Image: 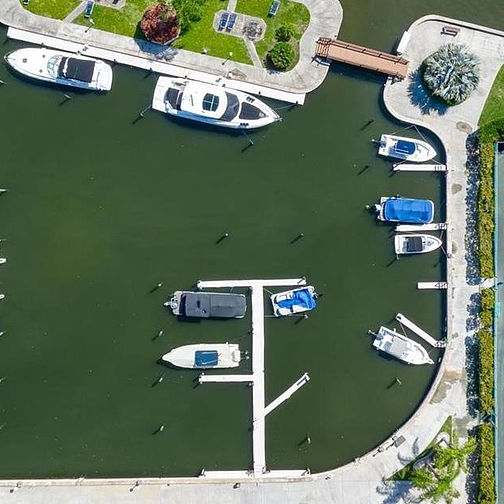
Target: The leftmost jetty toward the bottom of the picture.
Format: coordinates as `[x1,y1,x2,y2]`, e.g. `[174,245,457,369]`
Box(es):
[198,277,310,476]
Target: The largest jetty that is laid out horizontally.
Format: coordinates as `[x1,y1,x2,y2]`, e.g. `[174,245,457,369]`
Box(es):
[7,27,305,103]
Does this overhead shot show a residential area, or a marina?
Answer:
marina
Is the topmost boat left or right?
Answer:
left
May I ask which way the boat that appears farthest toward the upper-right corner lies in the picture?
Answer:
from left to right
